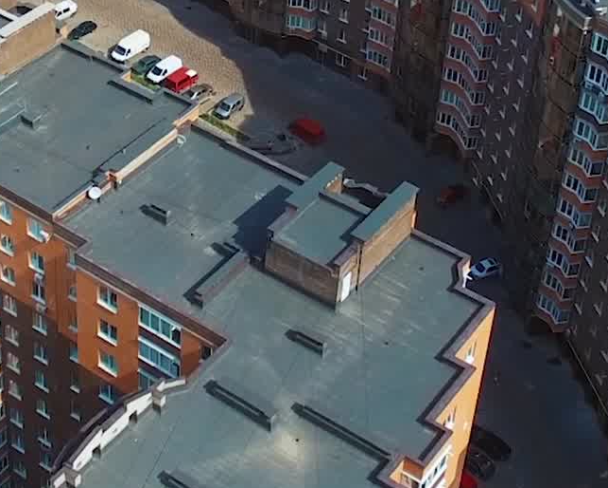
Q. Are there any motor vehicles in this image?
Yes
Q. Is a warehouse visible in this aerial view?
No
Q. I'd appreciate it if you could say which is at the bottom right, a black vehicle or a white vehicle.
black vehicle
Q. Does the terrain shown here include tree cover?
No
